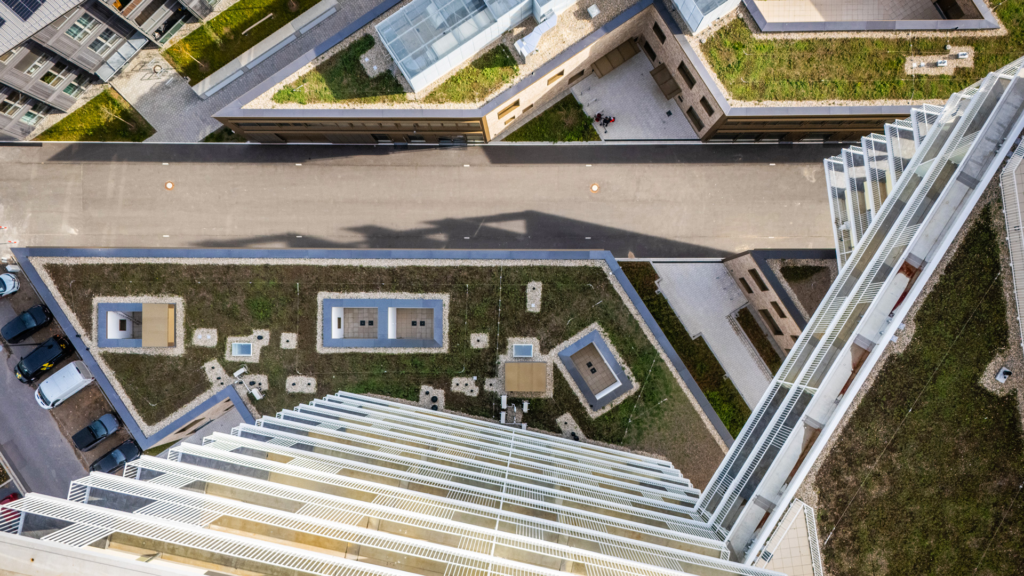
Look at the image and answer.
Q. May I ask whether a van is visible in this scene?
Yes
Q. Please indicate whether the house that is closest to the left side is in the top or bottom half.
top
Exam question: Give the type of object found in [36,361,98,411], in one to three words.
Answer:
van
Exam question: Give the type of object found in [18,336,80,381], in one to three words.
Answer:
van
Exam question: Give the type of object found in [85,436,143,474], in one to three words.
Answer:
car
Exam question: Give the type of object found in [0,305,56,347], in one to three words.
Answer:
car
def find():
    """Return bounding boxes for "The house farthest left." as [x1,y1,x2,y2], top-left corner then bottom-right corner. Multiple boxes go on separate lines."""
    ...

[0,0,151,140]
